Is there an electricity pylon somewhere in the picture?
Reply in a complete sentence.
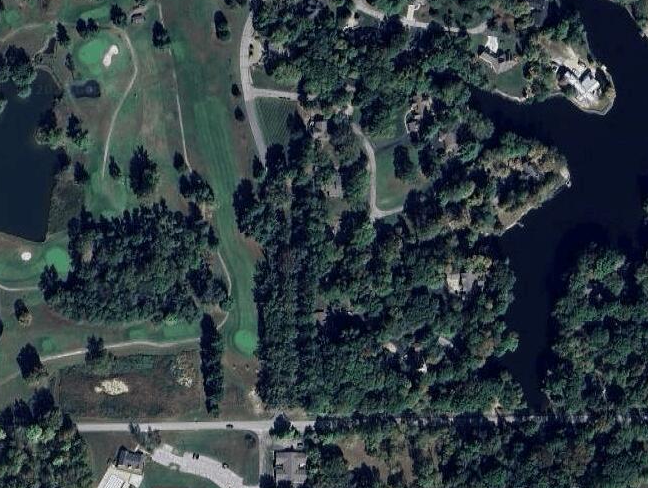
No, I find no electricity pylon anywhere in the image.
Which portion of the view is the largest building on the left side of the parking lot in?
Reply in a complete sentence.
The largest building on the left side of the parking lot is in the bottom left part of the image.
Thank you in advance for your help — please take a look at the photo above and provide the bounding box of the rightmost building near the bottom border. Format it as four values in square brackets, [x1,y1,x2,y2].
[276,452,307,484]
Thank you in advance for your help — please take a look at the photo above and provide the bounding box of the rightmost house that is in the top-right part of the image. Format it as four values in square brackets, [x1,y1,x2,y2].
[564,69,602,103]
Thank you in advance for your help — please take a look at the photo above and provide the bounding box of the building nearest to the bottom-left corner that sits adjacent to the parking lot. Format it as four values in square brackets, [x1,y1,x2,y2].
[114,448,147,473]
